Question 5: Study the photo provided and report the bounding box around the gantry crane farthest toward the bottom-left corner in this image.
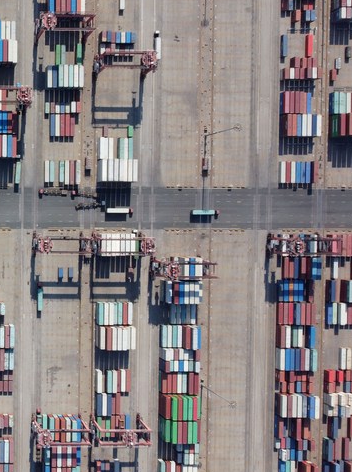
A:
[33,413,91,447]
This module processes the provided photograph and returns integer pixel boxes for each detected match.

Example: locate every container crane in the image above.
[153,256,218,280]
[33,413,91,447]
[37,11,96,46]
[91,413,152,447]
[95,49,158,81]
[92,233,157,258]
[30,233,89,258]
[270,233,342,258]
[0,84,32,114]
